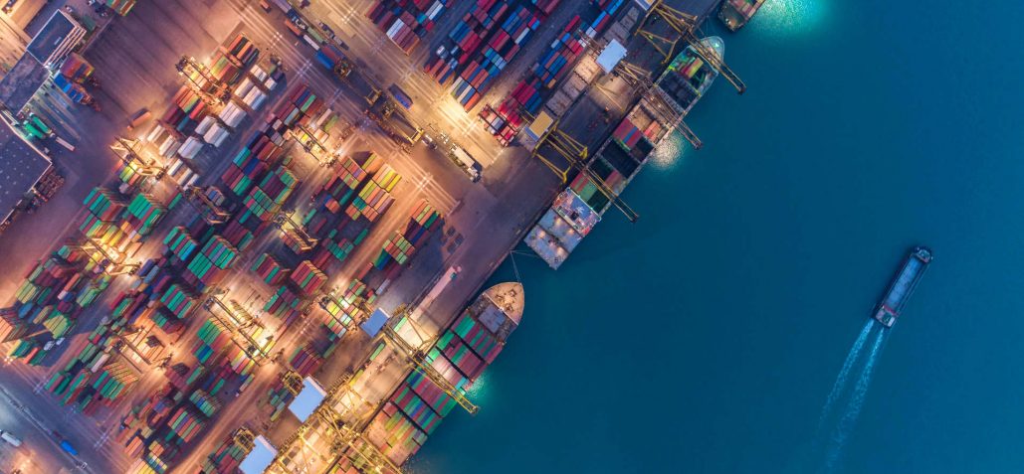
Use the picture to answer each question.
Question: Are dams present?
No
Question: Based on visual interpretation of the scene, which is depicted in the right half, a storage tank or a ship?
ship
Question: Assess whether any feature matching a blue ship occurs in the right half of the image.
Yes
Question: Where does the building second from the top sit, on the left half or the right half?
left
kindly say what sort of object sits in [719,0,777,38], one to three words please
ship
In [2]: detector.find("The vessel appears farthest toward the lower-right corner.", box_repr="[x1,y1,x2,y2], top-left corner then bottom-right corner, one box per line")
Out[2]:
[873,243,933,326]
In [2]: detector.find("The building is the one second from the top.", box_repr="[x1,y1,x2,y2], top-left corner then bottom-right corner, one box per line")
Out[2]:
[0,50,55,117]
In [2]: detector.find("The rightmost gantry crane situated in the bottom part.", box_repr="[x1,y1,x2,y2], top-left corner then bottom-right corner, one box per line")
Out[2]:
[354,297,482,417]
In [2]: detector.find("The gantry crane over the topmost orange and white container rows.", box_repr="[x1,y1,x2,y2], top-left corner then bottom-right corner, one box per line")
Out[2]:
[174,62,233,113]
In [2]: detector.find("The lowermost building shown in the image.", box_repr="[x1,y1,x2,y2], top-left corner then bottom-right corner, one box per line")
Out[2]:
[0,113,57,228]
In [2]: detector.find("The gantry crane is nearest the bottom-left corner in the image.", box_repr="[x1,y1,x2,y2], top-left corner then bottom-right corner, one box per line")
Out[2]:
[113,332,165,373]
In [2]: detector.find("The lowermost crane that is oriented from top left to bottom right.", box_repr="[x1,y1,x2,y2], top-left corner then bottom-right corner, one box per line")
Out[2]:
[277,363,404,474]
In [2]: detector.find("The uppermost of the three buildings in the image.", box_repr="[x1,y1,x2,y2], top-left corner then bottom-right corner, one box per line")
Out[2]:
[24,7,92,72]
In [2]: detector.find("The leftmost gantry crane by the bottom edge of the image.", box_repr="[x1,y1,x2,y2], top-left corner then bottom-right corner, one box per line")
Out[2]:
[227,423,339,474]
